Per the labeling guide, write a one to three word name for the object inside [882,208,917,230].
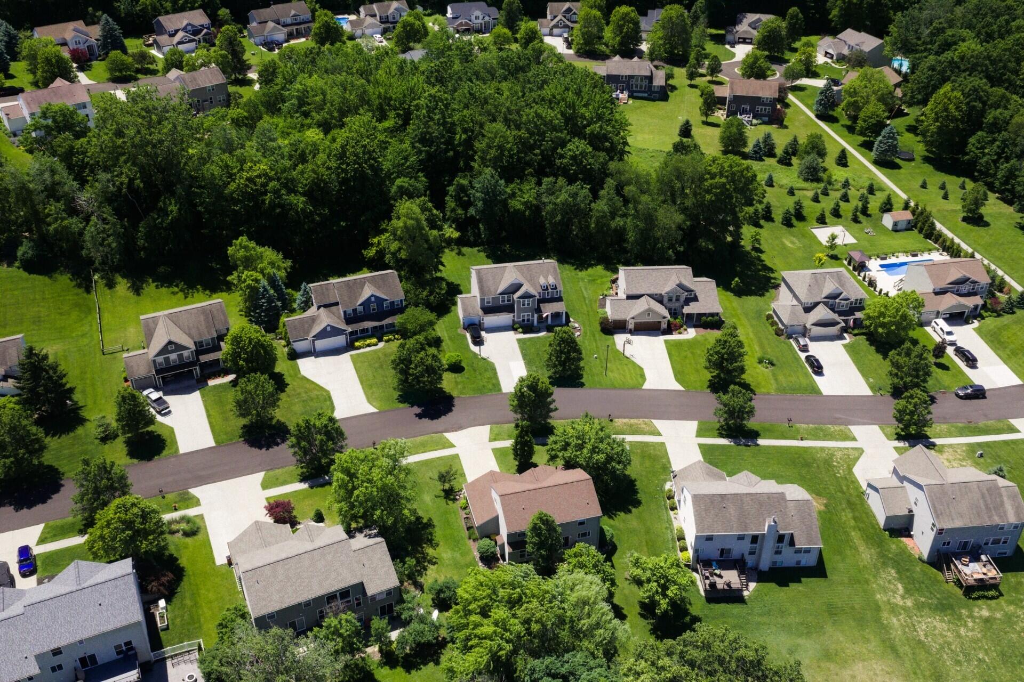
shed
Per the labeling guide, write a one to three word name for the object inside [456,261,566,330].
house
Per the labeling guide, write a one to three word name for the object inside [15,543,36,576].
car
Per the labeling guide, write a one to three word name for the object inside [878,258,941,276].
swimming pool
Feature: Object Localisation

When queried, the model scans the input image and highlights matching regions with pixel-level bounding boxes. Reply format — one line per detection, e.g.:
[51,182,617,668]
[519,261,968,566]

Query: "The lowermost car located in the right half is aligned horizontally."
[956,383,990,400]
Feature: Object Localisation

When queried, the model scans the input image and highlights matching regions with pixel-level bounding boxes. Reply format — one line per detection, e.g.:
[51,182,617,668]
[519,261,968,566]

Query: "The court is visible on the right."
[809,225,858,246]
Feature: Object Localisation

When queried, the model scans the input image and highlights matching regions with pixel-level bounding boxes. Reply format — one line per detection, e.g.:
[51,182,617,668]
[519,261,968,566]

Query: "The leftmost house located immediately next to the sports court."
[772,268,870,338]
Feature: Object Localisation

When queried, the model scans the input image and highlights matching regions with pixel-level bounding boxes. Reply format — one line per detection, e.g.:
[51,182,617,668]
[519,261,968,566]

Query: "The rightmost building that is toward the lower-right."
[863,441,1024,563]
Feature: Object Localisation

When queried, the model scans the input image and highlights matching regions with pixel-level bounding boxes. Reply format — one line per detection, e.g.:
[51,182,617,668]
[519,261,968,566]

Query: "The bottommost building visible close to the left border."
[0,555,154,682]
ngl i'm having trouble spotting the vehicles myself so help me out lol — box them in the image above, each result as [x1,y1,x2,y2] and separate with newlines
[955,346,981,365]
[374,34,382,41]
[790,333,810,350]
[956,383,990,400]
[467,324,482,341]
[4,86,23,95]
[15,543,36,576]
[143,391,169,413]
[934,316,956,338]
[263,40,274,49]
[565,39,573,47]
[0,557,17,583]
[561,32,569,39]
[804,354,827,372]
[274,40,283,47]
